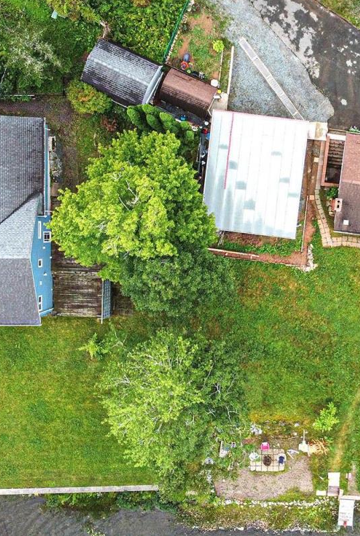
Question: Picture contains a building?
Yes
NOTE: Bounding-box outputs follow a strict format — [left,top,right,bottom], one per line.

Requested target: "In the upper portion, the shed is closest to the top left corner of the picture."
[80,38,164,106]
